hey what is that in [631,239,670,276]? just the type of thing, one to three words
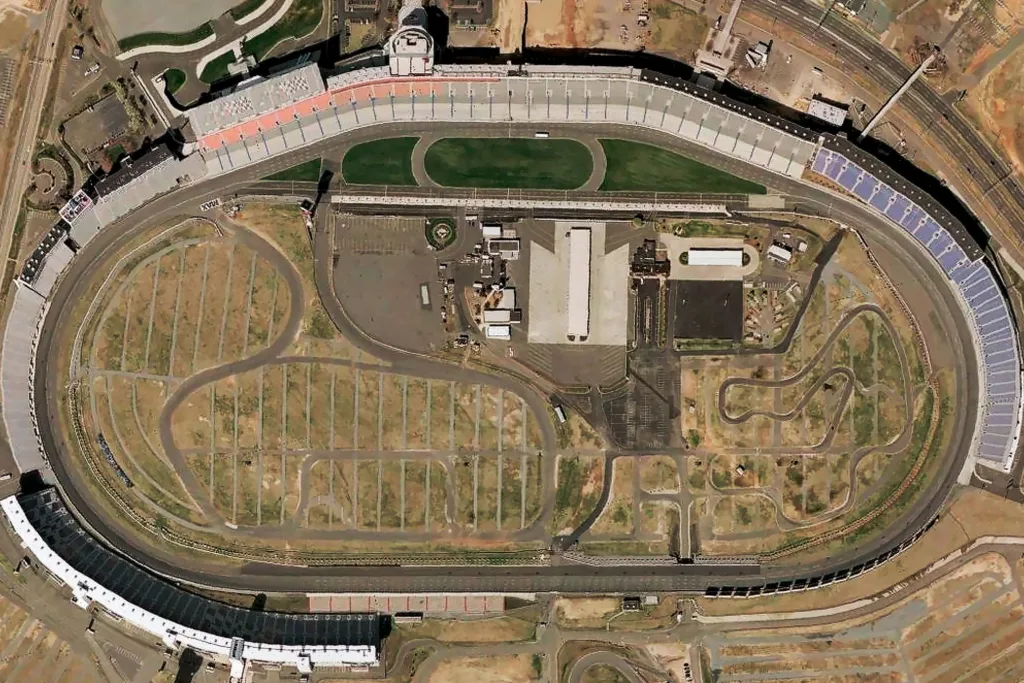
building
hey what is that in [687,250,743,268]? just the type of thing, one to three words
building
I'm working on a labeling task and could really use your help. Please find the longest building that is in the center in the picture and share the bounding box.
[566,227,590,341]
